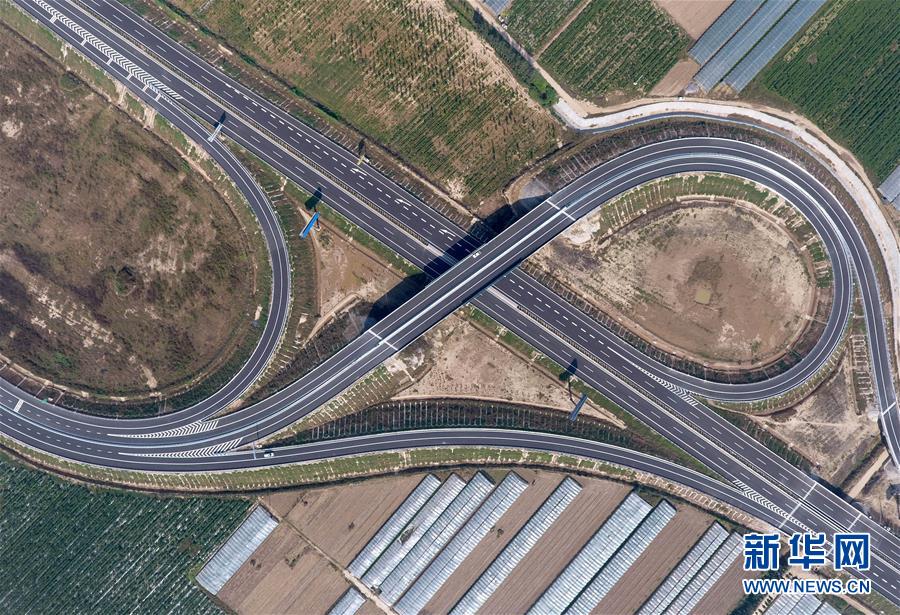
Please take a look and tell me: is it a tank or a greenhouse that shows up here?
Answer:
greenhouse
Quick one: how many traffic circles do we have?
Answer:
zero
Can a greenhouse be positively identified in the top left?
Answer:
No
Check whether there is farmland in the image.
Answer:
Yes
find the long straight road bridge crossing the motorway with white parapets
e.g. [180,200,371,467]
[363,194,577,364]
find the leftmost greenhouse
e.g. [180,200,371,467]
[197,504,279,594]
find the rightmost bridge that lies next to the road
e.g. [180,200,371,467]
[878,402,900,483]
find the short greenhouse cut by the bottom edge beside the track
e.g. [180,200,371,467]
[327,586,366,615]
